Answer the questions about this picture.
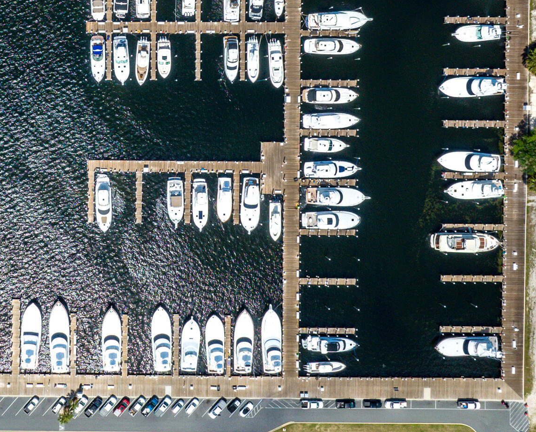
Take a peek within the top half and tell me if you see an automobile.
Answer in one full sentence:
No, no automobile is visible within the top half.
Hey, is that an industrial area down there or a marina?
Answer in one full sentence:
The picture captures a marina.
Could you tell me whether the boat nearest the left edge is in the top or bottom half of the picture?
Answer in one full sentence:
The bottom half of the photo is where the boat nearest the left edge is.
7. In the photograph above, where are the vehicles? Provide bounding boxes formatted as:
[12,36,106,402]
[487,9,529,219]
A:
[139,394,159,418]
[456,400,480,411]
[239,401,253,417]
[85,395,103,418]
[208,397,226,419]
[184,397,200,415]
[384,400,407,409]
[128,394,146,417]
[335,400,355,410]
[72,394,89,418]
[23,394,40,416]
[98,394,118,418]
[301,399,323,410]
[361,400,383,409]
[112,395,130,418]
[50,394,67,416]
[170,398,185,415]
[153,393,171,418]
[225,394,241,416]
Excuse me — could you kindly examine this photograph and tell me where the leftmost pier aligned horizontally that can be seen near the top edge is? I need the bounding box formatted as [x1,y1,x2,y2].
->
[85,21,287,35]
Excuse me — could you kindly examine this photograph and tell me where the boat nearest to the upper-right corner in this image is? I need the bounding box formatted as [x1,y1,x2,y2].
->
[451,24,503,43]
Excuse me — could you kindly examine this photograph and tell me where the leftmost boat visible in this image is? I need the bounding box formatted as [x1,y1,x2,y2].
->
[21,302,42,369]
